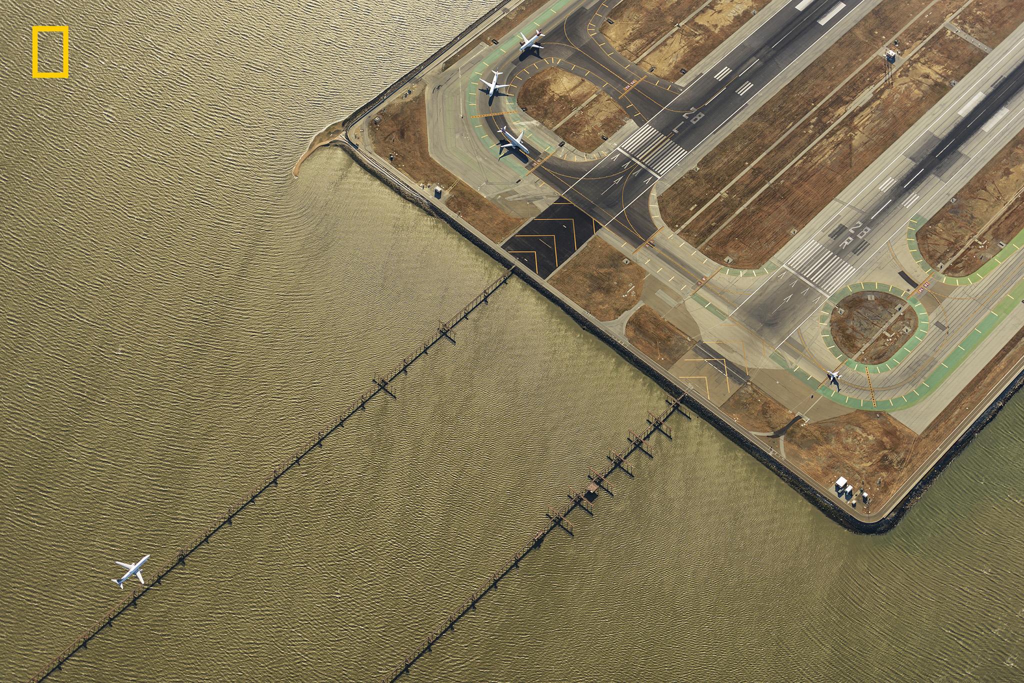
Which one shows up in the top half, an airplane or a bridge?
airplane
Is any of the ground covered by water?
Yes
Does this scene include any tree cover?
No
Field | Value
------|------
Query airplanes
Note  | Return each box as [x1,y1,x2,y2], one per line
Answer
[520,29,545,51]
[114,555,150,588]
[827,371,843,381]
[479,67,510,97]
[498,126,529,153]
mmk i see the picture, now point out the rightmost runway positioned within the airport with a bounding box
[729,39,1024,349]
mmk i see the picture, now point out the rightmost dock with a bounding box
[380,385,695,683]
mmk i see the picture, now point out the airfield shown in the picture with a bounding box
[341,0,1024,507]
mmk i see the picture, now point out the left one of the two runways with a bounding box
[561,0,865,225]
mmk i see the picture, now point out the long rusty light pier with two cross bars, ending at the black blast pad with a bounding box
[25,262,519,683]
